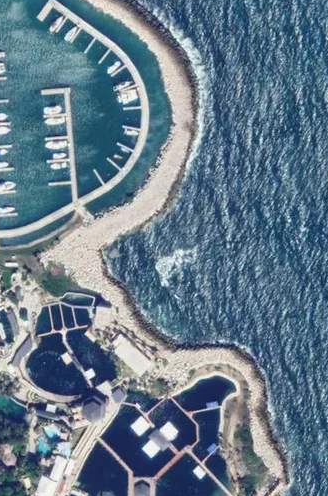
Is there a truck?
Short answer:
No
